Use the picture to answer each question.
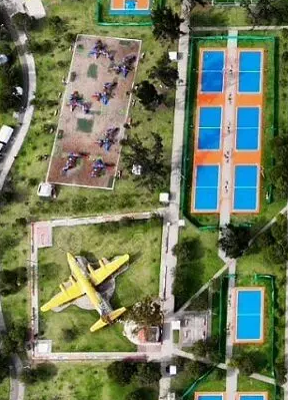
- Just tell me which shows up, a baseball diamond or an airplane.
airplane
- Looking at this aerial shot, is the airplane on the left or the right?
left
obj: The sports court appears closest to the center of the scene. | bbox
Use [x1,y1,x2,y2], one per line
[190,157,226,213]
